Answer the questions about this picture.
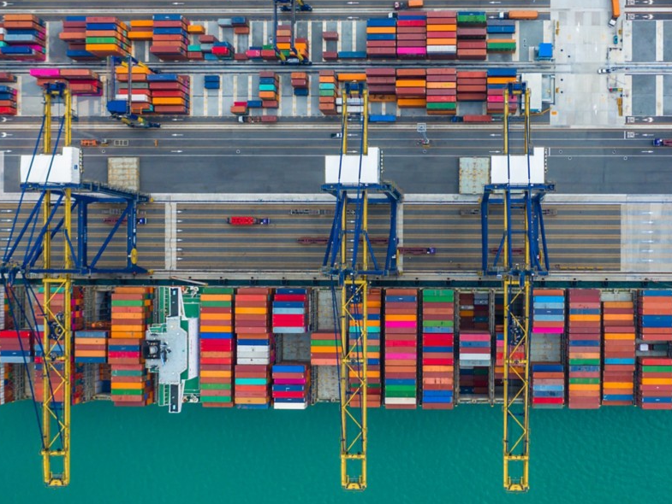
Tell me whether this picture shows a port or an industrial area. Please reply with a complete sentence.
The area seen from above is a port.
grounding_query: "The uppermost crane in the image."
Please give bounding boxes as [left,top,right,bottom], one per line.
[271,0,312,64]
